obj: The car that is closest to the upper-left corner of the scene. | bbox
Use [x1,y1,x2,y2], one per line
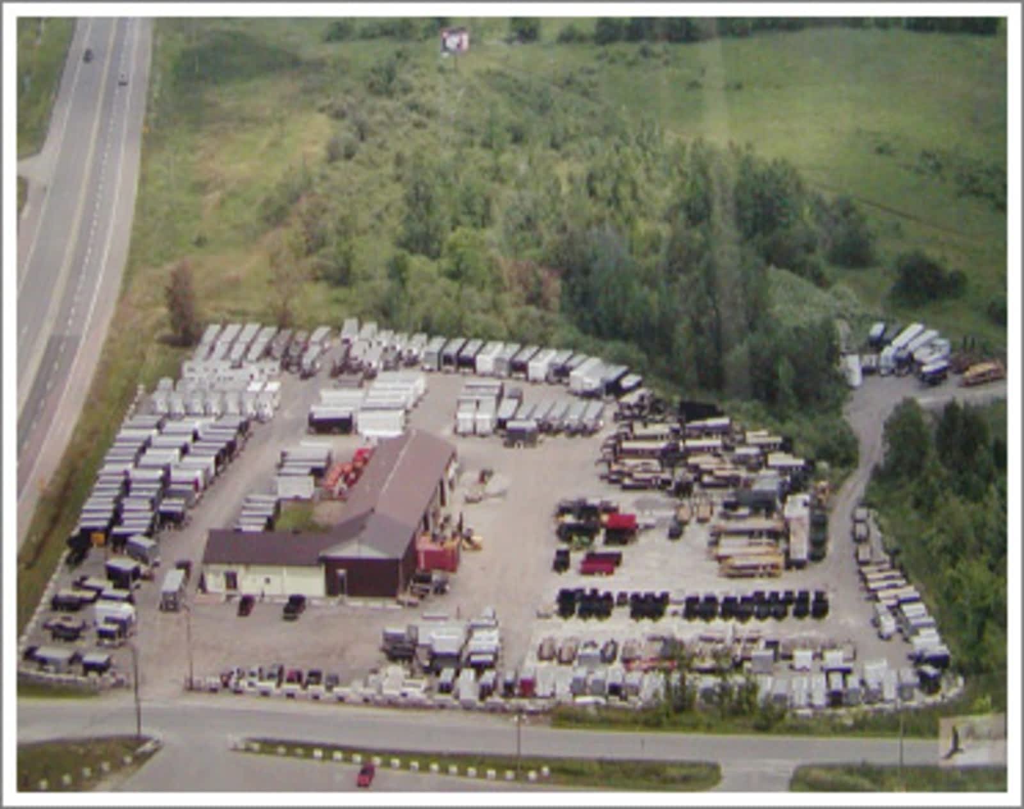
[82,47,94,59]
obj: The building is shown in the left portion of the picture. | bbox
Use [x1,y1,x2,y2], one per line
[204,432,455,592]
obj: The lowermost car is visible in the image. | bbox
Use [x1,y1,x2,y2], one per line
[353,760,379,786]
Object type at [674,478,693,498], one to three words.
work vehicle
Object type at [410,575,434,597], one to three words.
truck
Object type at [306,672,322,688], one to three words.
vehicle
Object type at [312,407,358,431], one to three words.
trailer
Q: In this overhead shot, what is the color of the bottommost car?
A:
red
